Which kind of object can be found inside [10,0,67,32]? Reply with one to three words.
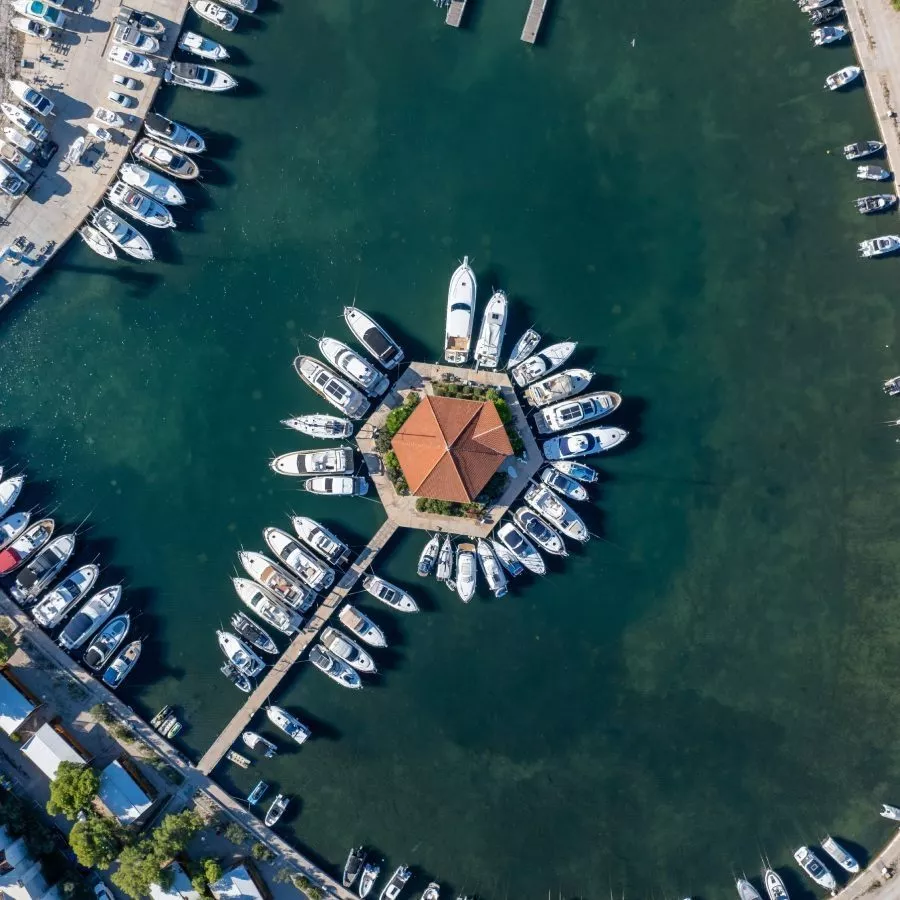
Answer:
boat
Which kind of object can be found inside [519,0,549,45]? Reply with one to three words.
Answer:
pier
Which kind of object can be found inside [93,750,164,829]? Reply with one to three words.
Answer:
house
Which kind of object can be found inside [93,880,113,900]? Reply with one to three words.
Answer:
car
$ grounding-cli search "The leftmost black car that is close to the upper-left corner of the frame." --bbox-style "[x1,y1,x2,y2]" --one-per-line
[36,140,60,166]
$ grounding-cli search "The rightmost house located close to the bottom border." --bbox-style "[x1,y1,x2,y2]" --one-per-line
[208,852,291,900]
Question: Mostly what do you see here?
water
